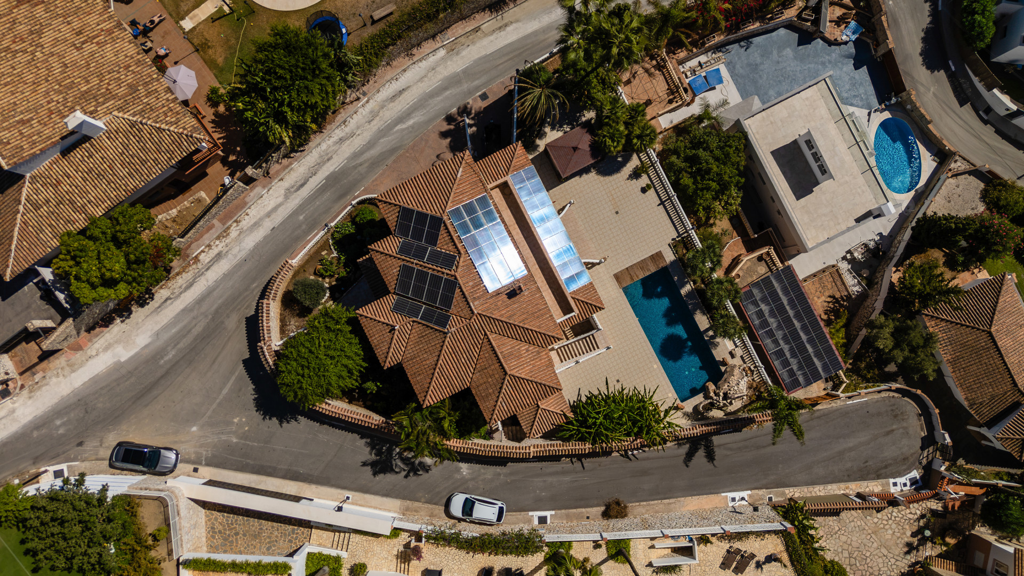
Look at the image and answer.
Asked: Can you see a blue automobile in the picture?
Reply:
No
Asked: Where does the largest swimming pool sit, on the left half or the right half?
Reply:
right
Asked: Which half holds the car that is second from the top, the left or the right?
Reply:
left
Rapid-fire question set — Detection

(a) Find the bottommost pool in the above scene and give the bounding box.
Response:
[624,268,719,400]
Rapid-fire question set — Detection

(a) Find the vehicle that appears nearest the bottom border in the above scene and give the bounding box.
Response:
[445,492,508,528]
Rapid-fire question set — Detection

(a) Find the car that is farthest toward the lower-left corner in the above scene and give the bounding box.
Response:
[105,441,180,477]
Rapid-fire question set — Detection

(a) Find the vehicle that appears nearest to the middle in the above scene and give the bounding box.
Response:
[476,101,507,158]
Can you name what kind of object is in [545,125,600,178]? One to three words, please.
gazebo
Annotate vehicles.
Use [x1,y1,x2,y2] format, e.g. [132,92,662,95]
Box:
[105,441,180,477]
[445,492,508,528]
[476,101,507,158]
